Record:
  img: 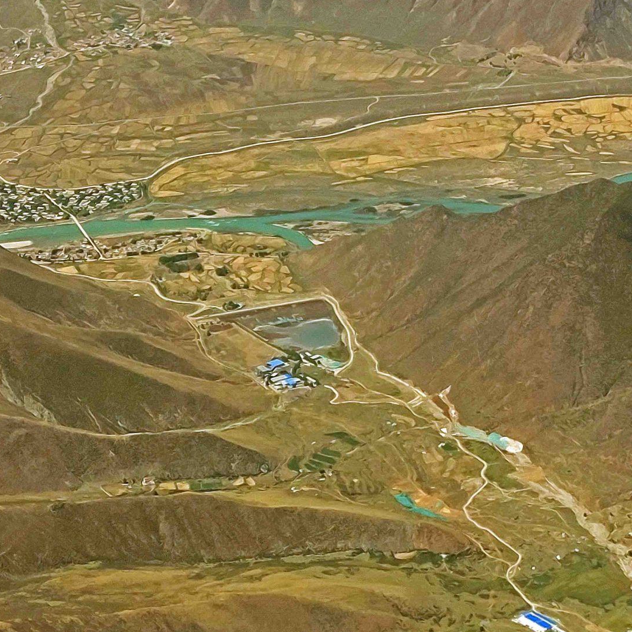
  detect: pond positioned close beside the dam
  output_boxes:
[265,318,343,349]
